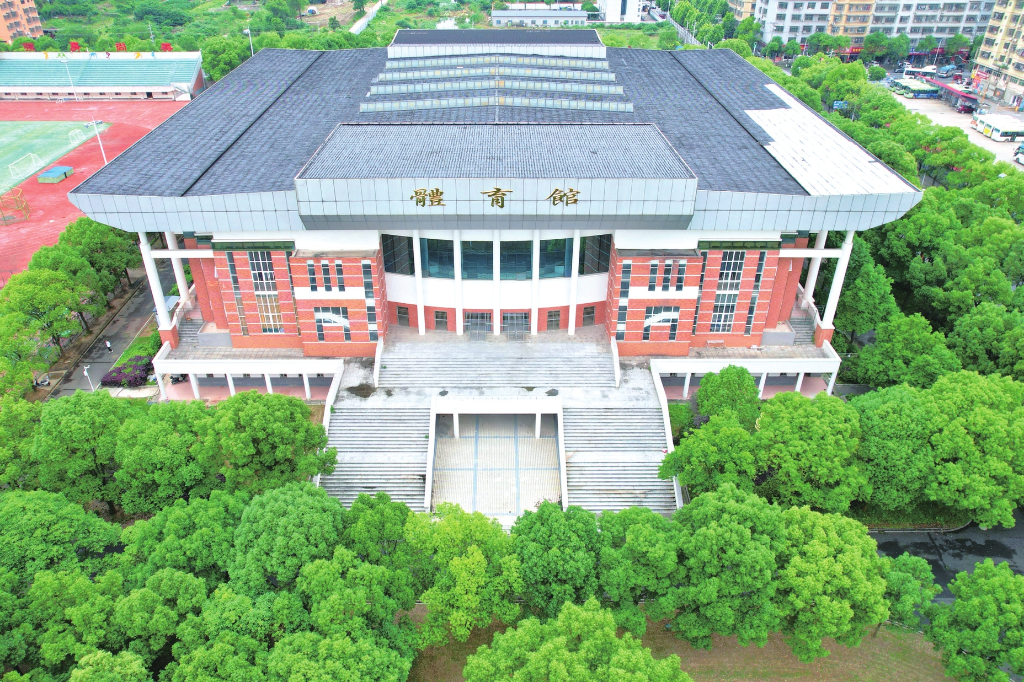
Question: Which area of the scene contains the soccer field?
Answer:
top left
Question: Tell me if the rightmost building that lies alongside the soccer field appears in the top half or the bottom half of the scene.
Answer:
top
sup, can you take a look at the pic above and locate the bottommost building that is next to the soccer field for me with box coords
[68,28,926,356]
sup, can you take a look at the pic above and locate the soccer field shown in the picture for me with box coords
[0,122,110,193]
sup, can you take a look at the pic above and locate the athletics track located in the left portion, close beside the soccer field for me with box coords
[0,100,192,125]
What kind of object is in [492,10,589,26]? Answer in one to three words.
shed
